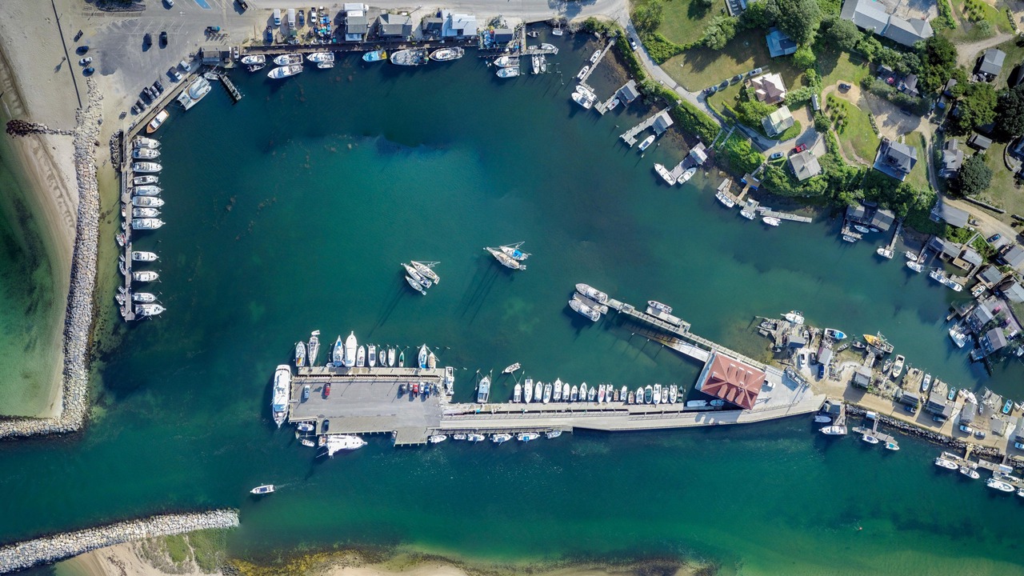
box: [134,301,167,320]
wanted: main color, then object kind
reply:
white boat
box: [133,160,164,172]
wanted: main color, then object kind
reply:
white boat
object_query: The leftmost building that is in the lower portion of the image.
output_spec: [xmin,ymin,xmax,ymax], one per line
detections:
[693,351,766,409]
